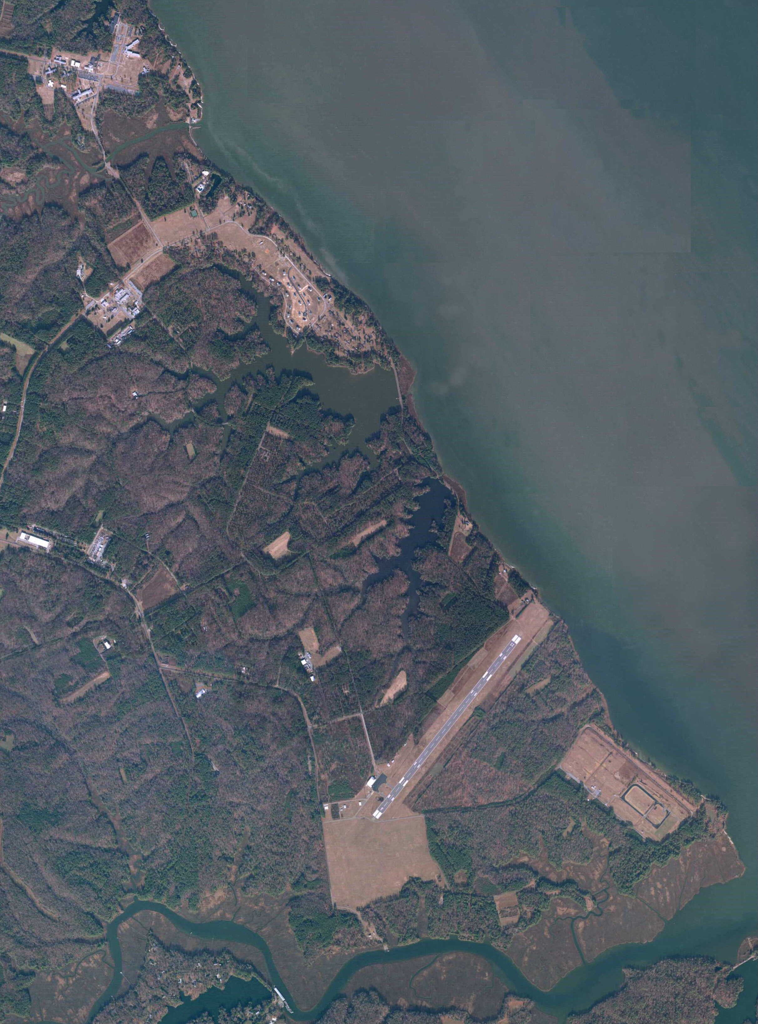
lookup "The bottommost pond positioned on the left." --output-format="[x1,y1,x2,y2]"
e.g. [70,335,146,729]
[158,975,272,1024]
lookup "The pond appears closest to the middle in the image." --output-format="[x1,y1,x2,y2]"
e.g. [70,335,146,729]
[356,477,457,640]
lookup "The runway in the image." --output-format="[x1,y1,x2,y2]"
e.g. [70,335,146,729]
[372,633,523,820]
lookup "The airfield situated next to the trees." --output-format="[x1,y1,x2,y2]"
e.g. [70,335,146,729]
[356,602,553,821]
